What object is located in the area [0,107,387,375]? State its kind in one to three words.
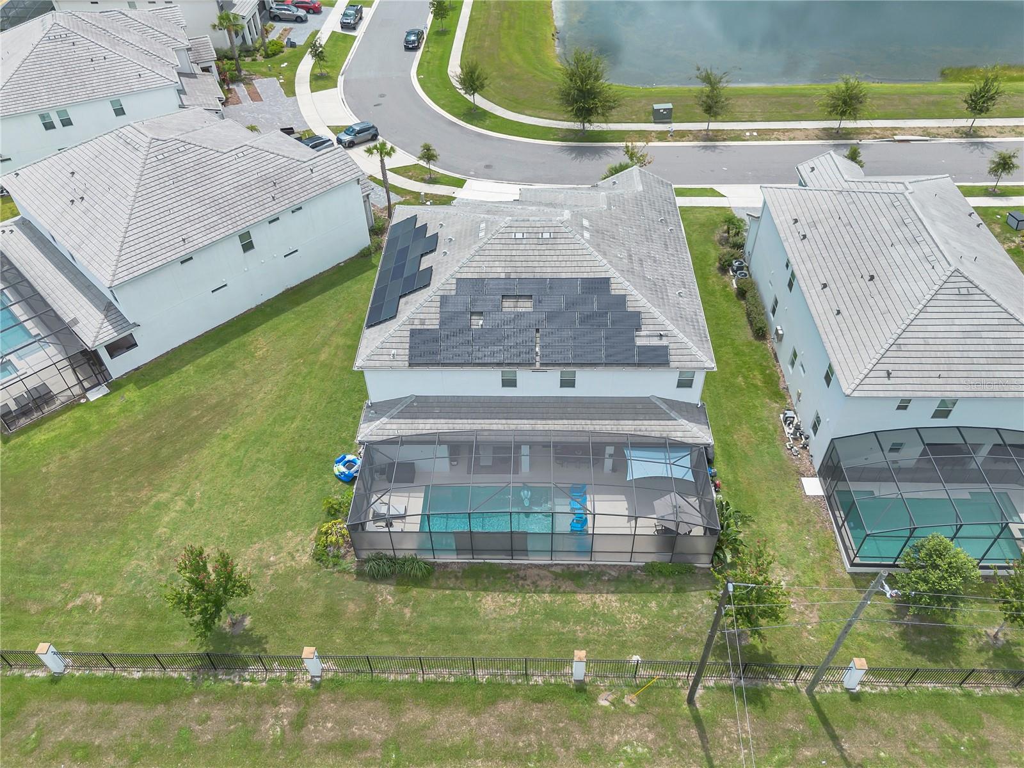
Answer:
house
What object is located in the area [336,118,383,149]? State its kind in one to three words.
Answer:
car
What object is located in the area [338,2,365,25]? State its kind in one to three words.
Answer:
truck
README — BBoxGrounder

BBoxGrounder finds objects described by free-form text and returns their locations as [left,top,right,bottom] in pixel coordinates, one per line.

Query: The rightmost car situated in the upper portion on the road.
[402,21,423,46]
